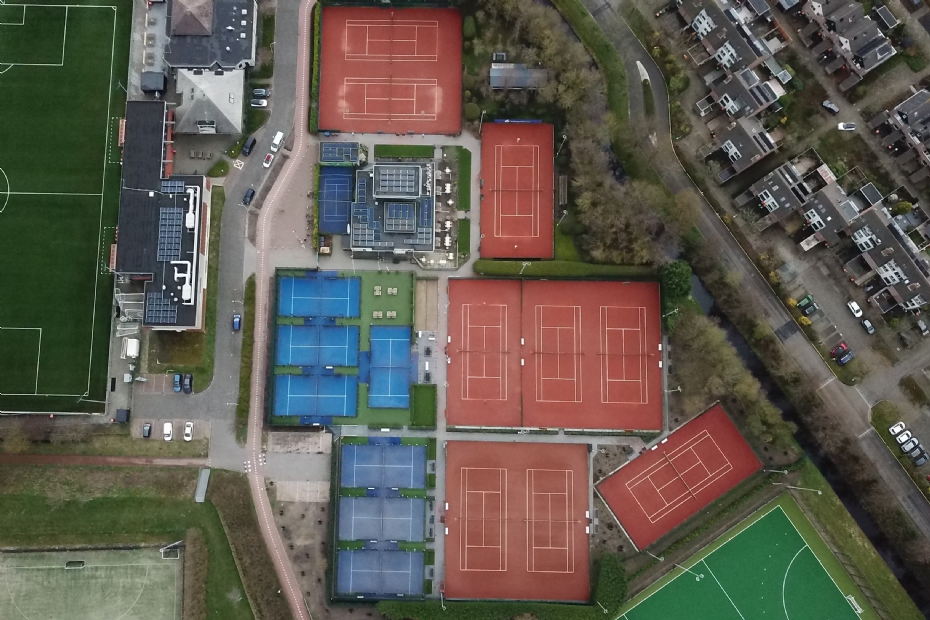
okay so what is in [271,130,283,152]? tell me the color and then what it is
white vehicle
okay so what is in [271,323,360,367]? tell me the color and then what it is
blue sports court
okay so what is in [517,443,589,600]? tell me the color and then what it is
red tennis court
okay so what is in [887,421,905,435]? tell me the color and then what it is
white vehicle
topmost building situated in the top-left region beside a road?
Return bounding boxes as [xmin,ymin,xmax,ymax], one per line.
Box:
[163,0,261,74]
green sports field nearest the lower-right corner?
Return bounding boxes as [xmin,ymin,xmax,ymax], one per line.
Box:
[601,492,884,620]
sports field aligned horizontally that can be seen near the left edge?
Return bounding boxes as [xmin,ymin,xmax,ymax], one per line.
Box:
[0,546,183,620]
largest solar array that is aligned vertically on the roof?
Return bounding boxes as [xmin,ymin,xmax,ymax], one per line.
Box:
[158,208,182,261]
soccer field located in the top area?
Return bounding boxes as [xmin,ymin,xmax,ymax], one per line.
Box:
[0,0,133,411]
